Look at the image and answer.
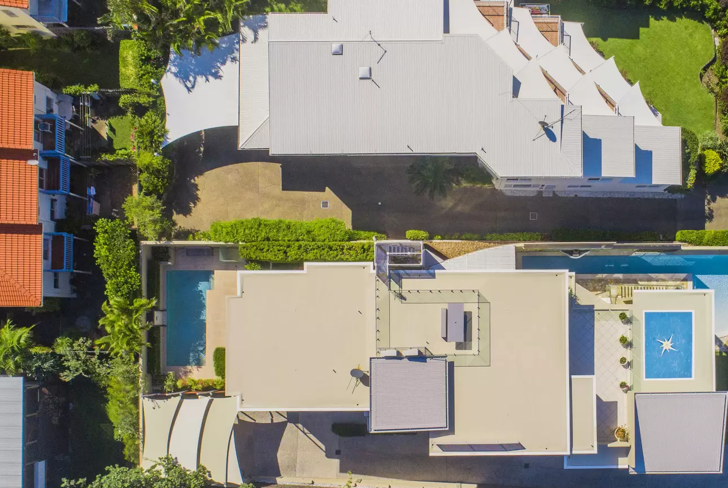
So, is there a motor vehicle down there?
No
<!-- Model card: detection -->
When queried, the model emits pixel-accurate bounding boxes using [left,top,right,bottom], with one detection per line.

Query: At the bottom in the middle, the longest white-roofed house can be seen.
[227,262,569,455]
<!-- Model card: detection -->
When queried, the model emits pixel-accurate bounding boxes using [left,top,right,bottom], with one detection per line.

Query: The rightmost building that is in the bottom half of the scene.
[633,291,714,388]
